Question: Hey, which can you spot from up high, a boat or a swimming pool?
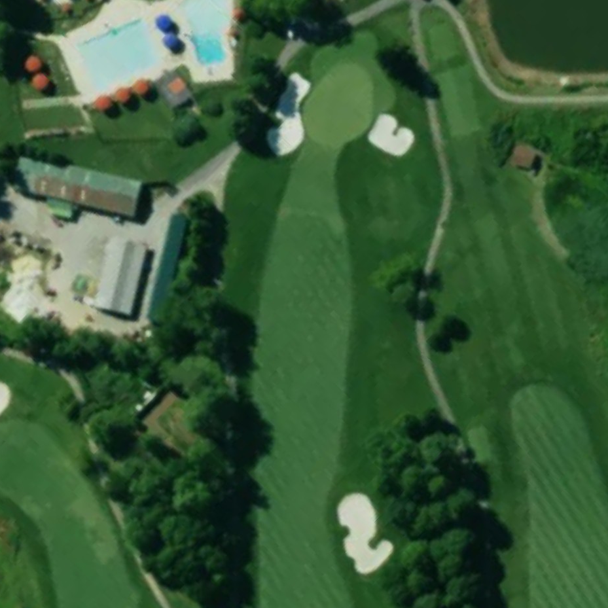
swimming pool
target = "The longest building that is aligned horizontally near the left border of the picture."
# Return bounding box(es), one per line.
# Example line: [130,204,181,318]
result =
[21,157,142,217]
